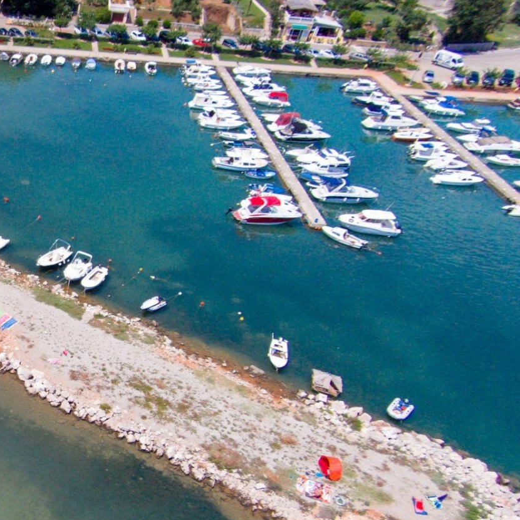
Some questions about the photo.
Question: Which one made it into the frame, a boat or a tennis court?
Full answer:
Looking from above, you can make out a boat.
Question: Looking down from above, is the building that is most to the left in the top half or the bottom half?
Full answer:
The building that is most to the left is in the top half of the image.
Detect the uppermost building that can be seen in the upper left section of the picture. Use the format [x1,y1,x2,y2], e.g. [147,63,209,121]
[111,0,139,28]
